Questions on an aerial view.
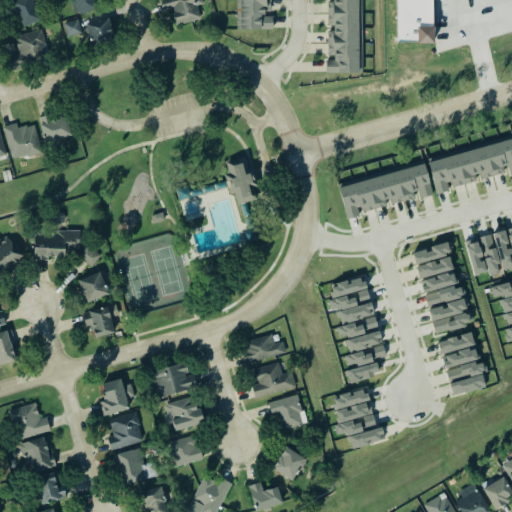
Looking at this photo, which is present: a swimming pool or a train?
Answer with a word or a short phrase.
swimming pool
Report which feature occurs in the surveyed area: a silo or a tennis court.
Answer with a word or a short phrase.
tennis court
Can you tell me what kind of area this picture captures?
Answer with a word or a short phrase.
residential area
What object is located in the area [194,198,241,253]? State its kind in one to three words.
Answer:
swimming pool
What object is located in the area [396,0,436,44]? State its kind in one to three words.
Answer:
building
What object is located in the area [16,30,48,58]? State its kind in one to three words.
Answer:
house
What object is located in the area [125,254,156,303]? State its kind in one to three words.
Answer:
tennis court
